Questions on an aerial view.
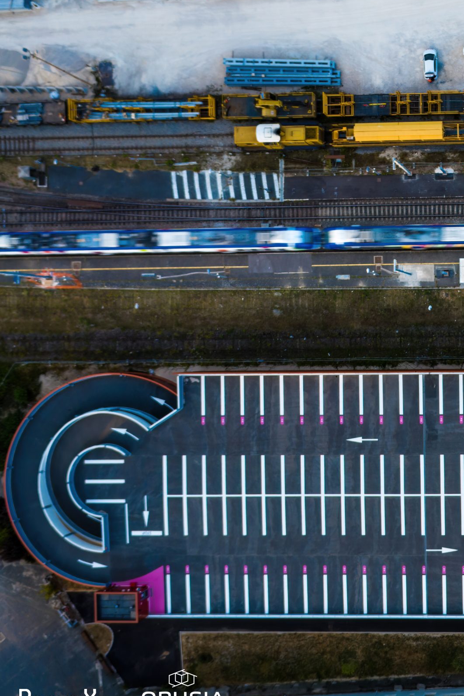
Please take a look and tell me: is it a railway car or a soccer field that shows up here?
railway car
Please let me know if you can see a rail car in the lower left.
No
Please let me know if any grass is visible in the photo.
Yes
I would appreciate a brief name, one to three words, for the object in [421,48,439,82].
car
